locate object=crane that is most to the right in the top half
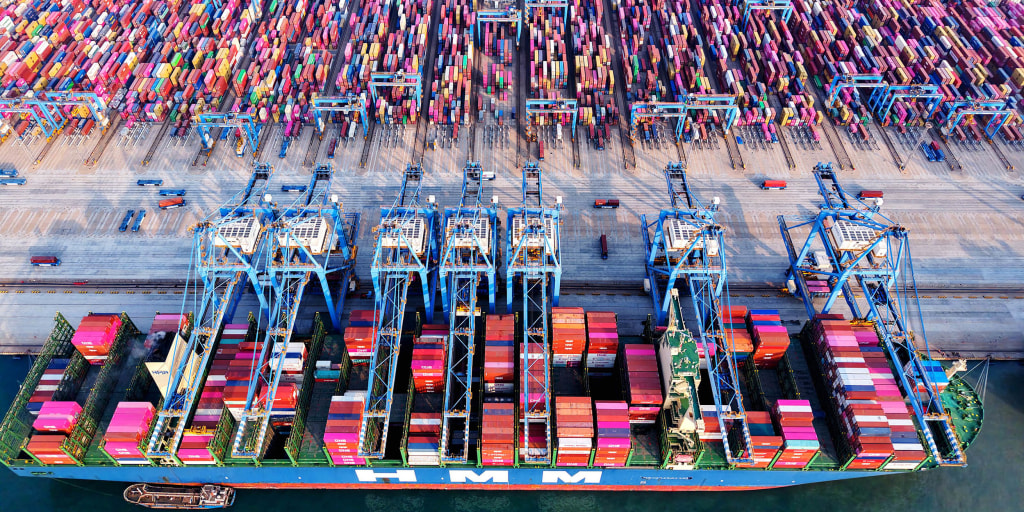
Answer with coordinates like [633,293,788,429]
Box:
[935,93,1011,138]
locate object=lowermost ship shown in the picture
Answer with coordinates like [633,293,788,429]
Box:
[120,485,236,511]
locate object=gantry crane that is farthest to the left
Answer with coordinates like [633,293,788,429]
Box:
[0,92,59,137]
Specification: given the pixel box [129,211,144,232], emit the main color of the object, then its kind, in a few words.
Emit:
blue vehicle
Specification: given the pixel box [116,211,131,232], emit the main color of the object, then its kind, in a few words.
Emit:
blue vehicle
